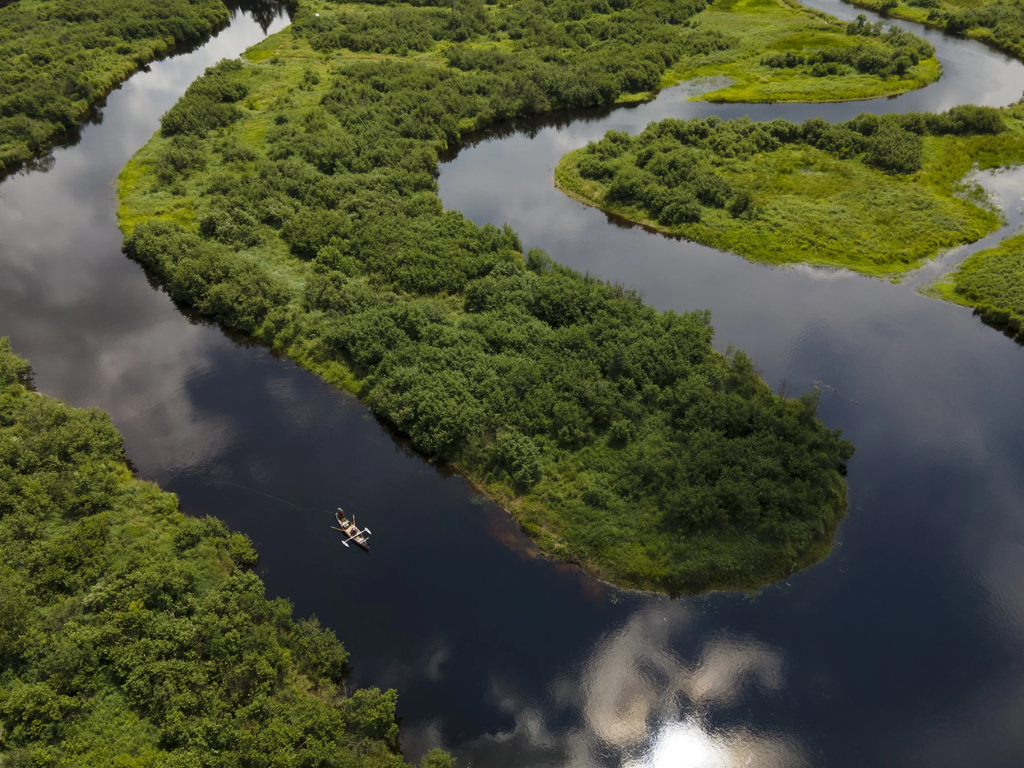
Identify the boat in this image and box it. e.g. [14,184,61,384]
[331,512,371,550]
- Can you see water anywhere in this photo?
Yes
